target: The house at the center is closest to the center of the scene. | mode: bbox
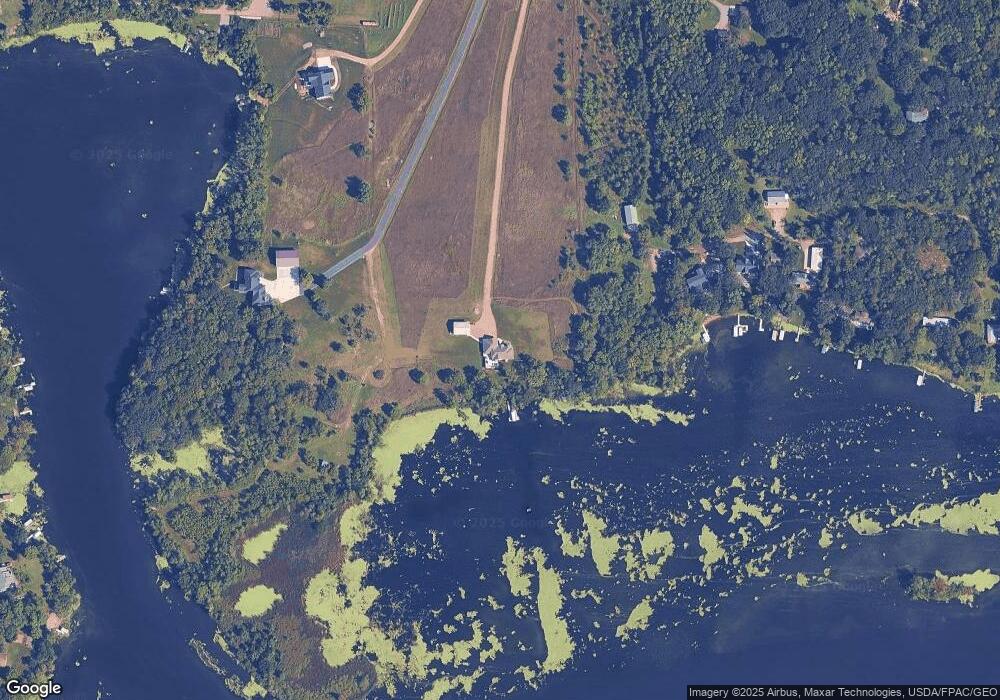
[482,338,517,366]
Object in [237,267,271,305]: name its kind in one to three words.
house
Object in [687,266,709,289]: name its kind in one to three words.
house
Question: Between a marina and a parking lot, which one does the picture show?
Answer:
marina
